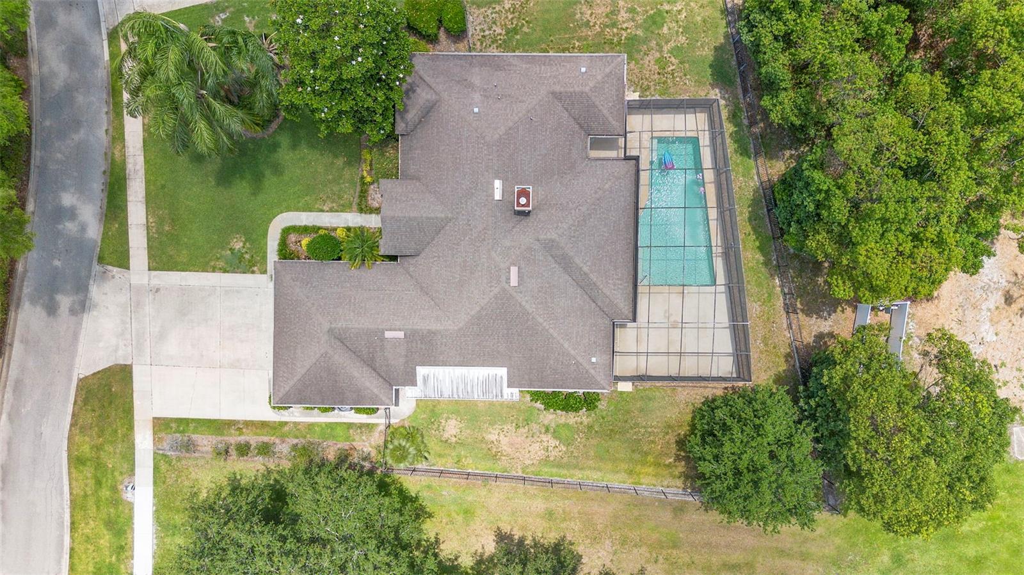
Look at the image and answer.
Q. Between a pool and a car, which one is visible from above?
pool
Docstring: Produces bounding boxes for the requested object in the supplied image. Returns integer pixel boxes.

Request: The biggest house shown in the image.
[272,52,636,408]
